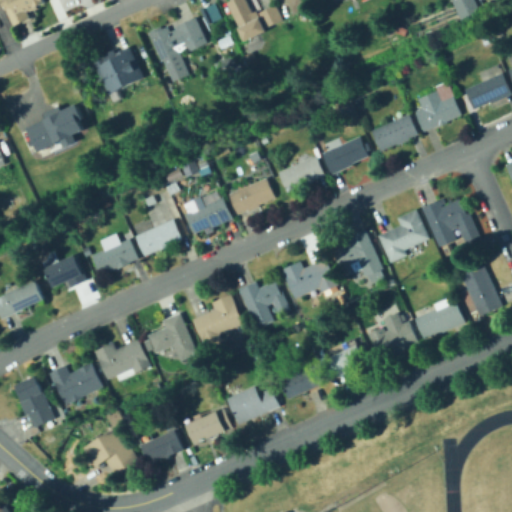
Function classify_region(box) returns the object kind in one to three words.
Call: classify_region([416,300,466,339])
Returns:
house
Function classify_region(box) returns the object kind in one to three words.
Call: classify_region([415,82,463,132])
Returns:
house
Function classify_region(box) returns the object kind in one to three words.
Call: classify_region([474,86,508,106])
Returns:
solar panel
